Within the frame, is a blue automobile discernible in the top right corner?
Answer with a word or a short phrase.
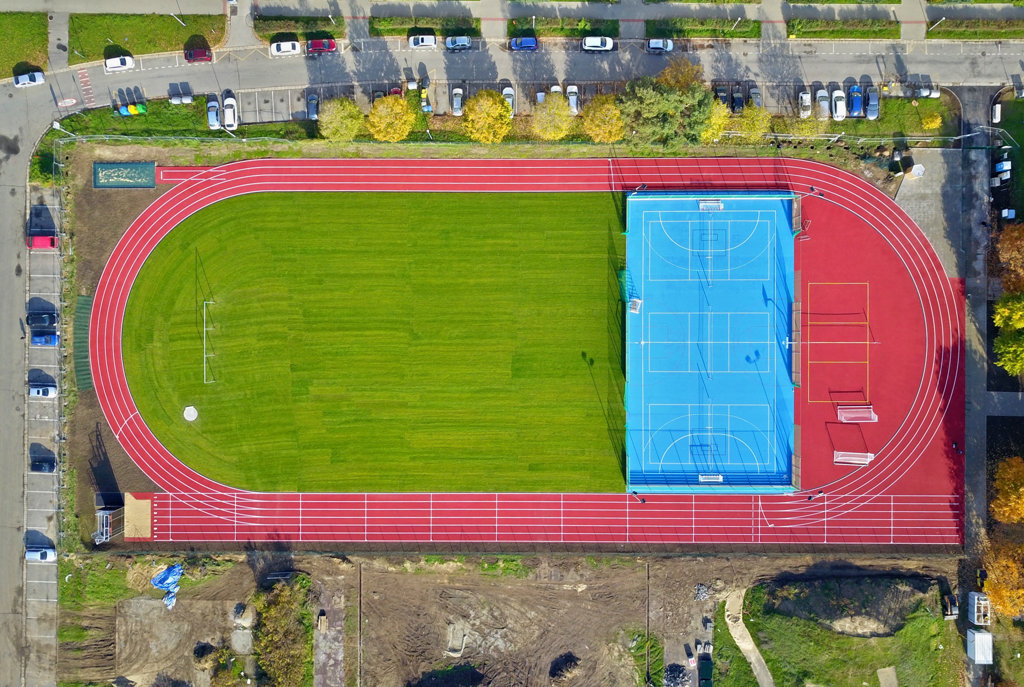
Yes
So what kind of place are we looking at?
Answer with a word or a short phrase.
sports ground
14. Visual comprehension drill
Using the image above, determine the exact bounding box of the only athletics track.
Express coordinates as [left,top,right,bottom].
[88,157,965,546]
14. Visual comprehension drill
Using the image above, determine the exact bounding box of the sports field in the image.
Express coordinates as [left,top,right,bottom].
[123,193,627,494]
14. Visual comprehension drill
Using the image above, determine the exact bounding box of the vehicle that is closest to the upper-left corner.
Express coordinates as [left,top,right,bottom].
[12,70,46,89]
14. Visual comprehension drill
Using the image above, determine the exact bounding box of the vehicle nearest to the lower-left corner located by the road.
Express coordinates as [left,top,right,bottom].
[24,547,56,564]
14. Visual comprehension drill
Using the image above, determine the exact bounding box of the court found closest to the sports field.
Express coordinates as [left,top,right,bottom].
[626,190,795,494]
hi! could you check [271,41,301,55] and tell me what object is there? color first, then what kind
white car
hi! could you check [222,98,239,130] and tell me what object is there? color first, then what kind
white car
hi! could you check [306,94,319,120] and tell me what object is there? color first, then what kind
blue vehicle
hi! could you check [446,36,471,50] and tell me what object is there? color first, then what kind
blue car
